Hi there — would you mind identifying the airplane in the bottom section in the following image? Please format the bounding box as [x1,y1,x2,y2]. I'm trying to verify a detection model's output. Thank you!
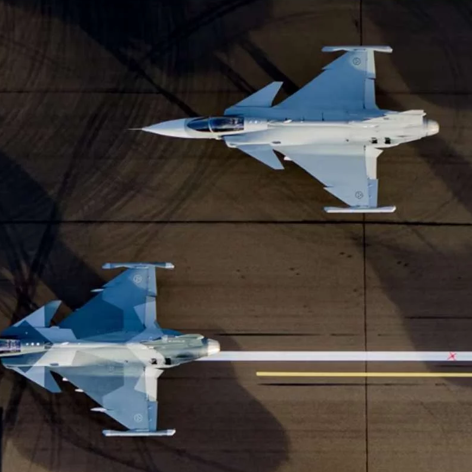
[0,262,220,437]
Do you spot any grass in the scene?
No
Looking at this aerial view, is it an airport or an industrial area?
airport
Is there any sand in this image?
No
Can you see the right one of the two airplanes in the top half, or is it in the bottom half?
top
